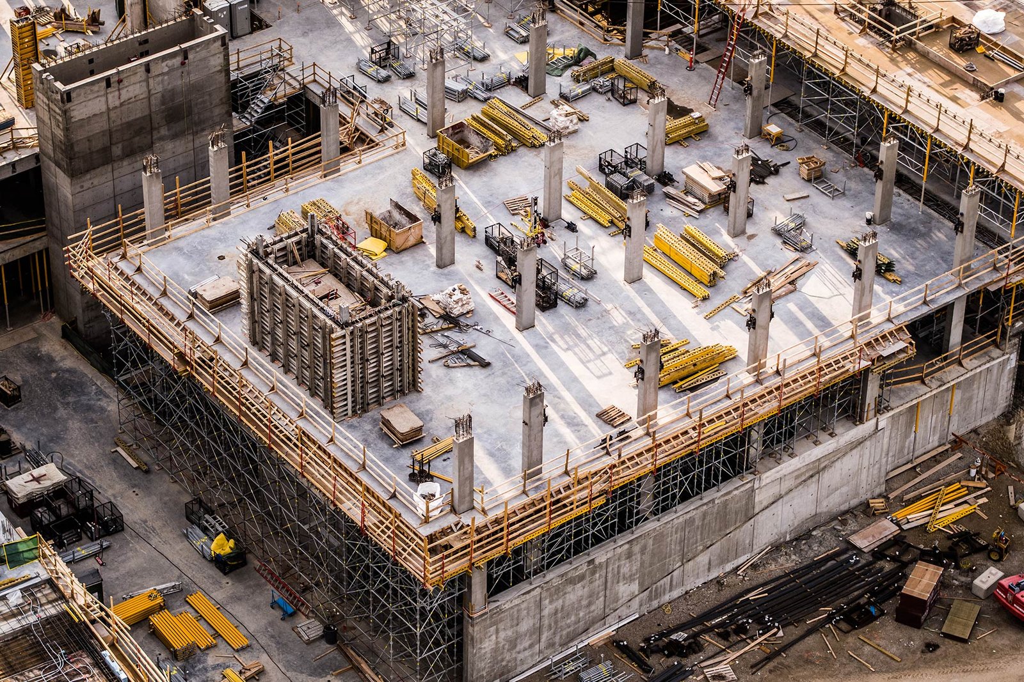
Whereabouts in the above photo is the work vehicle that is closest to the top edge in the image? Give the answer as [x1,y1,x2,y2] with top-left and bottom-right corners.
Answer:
[516,199,549,248]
